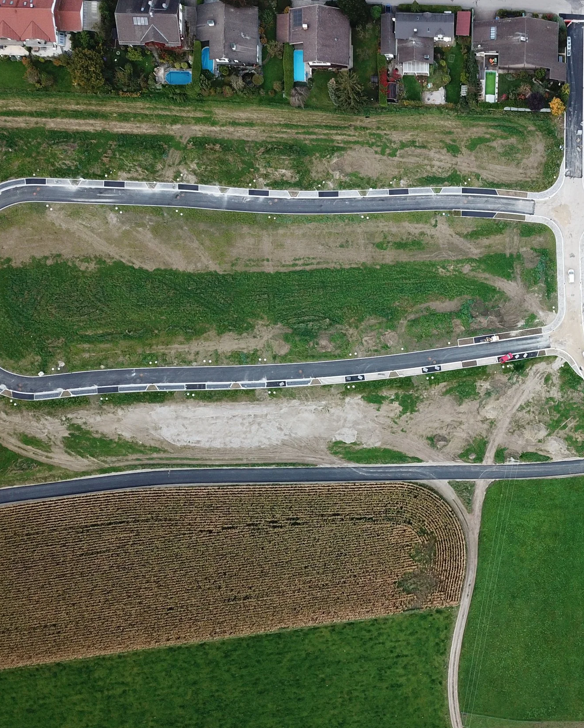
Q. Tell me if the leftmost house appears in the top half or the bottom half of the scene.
top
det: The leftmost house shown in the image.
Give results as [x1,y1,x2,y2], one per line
[0,0,104,48]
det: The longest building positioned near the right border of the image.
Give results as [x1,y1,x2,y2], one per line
[471,18,567,84]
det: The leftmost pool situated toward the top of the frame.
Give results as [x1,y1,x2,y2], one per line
[165,70,193,85]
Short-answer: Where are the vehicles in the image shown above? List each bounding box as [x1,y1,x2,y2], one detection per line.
[568,268,574,283]
[499,352,512,364]
[385,2,392,13]
[481,335,500,343]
